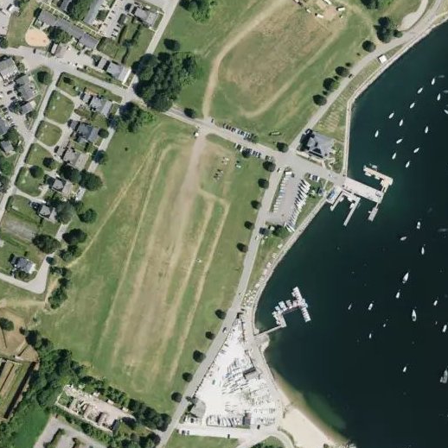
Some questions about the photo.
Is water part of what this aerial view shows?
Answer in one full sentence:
Yes, there is water in the image.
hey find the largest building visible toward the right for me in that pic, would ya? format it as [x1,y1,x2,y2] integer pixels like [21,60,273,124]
[307,131,337,159]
